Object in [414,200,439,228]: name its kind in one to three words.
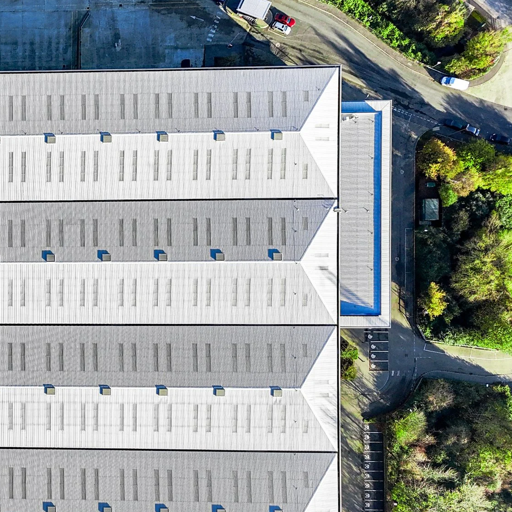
shed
